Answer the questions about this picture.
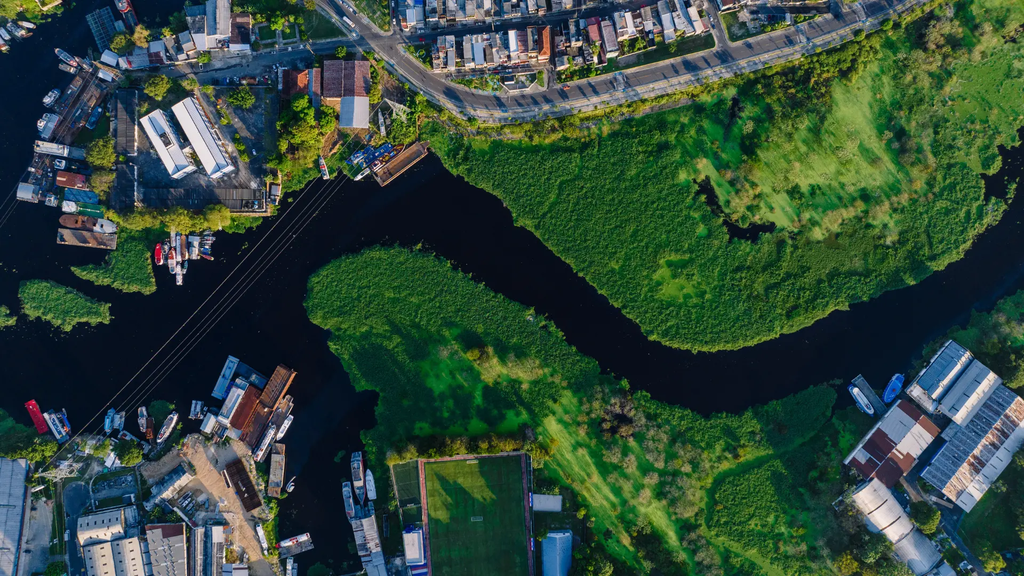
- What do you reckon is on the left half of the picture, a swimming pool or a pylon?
pylon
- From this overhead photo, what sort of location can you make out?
residential area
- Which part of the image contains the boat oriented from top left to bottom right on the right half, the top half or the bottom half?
bottom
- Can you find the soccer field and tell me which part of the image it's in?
bottom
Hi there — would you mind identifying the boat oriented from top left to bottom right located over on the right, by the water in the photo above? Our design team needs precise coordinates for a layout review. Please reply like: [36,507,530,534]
[848,384,874,419]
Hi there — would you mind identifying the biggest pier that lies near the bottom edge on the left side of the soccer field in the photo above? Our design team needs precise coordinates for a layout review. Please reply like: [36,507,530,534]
[279,538,314,559]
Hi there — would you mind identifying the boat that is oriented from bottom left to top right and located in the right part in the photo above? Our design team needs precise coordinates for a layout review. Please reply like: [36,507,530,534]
[884,373,903,402]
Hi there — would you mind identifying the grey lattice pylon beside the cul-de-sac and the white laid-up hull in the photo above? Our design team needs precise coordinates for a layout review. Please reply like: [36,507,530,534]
[34,457,83,486]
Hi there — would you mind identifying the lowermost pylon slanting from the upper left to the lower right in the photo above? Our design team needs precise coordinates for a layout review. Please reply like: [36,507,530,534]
[385,92,407,118]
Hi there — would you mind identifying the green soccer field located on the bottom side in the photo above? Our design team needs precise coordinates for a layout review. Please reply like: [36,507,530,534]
[419,453,533,576]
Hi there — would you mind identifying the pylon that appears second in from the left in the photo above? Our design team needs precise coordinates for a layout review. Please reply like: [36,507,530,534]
[86,56,127,82]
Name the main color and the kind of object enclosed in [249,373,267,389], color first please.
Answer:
blue ship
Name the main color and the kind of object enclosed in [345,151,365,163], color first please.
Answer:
blue boat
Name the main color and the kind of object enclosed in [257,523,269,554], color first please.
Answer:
white boat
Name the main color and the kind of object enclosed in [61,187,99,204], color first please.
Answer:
blue ship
